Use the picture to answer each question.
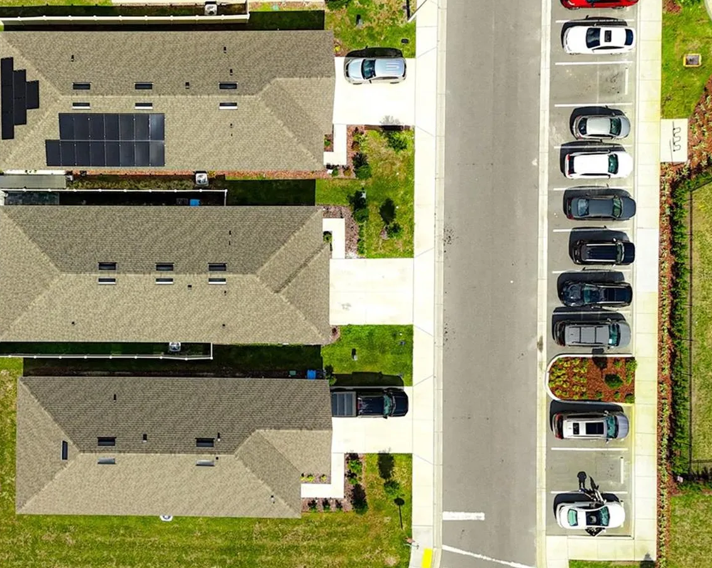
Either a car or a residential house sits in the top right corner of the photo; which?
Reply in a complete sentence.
The feature located in the top right corner of the photo is a car.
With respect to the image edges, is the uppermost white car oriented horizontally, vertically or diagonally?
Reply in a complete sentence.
In this picture, the uppermost white car lies horizontally.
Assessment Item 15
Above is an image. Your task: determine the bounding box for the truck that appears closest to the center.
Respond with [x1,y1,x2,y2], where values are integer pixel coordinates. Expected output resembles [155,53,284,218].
[334,387,408,424]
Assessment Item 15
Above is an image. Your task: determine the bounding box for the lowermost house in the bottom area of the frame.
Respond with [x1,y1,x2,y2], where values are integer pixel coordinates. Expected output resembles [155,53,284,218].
[15,377,337,517]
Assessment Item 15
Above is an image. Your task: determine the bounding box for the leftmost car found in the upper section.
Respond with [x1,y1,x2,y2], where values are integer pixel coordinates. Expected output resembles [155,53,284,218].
[344,52,406,86]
